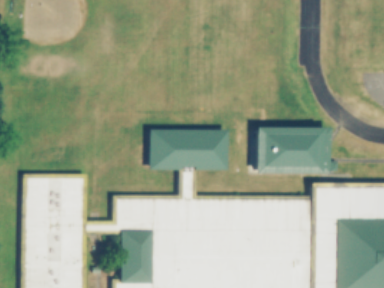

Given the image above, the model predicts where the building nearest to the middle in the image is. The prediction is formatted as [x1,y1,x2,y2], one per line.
[149,129,229,171]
